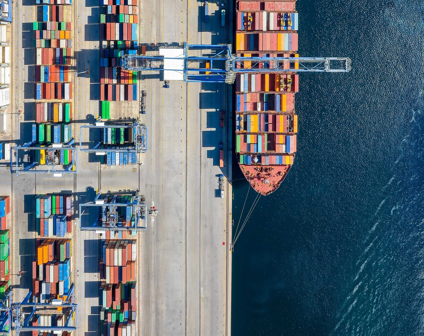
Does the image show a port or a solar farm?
port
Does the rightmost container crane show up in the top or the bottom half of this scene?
top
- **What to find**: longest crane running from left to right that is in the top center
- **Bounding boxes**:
[122,39,355,89]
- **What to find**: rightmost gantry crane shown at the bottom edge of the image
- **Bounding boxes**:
[9,299,77,335]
